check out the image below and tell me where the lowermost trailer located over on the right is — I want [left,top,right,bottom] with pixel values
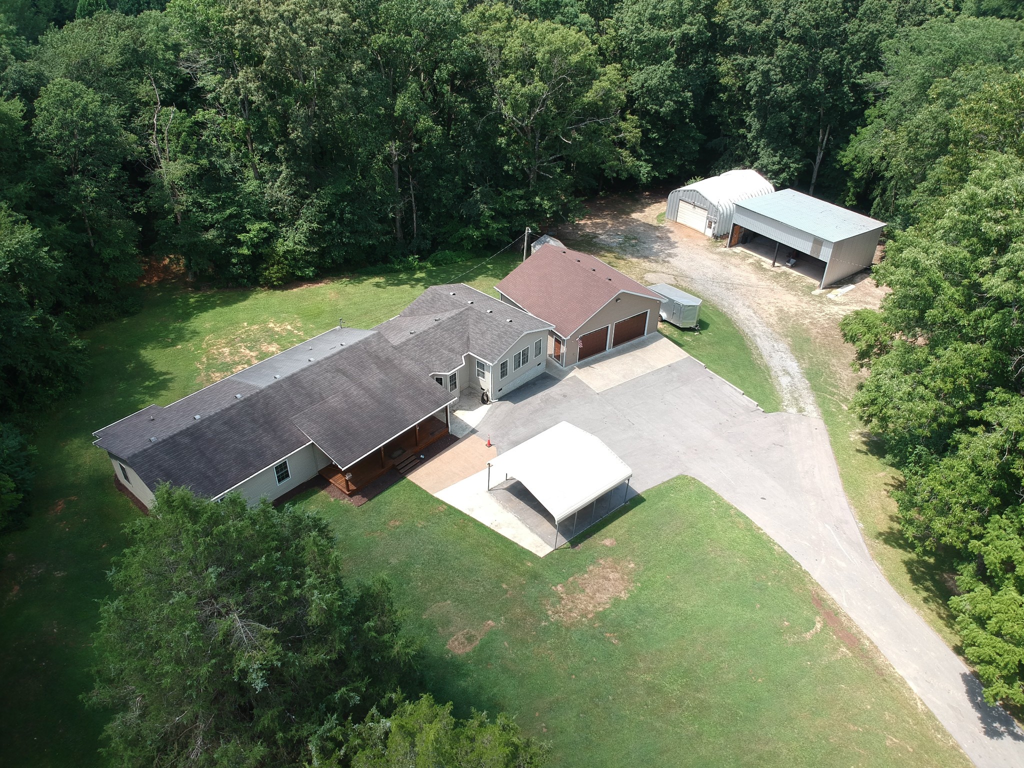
[649,280,707,334]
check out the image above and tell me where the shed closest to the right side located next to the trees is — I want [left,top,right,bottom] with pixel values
[726,189,887,290]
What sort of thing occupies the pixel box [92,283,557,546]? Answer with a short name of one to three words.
house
